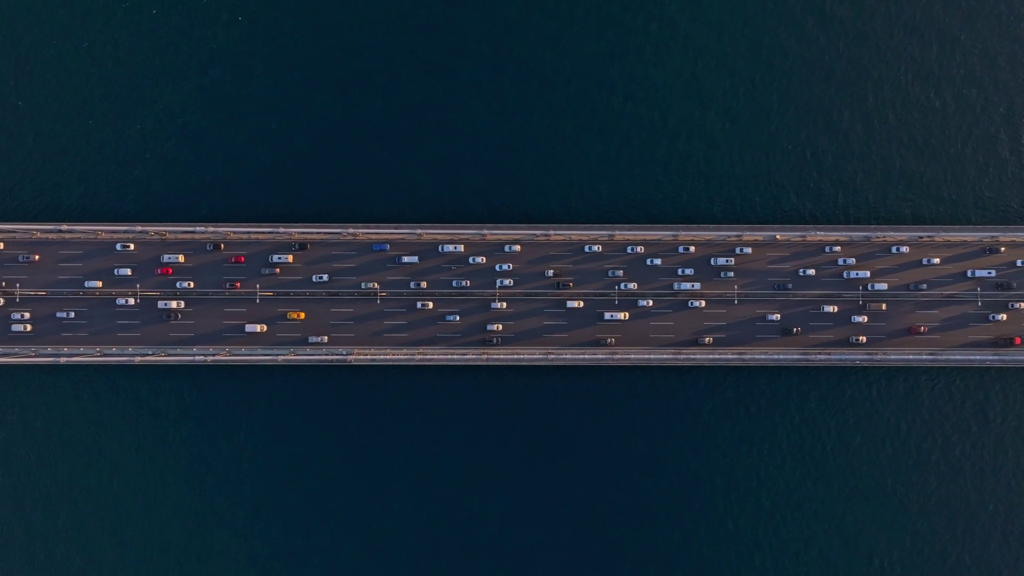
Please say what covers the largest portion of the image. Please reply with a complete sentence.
The scene is dominated by water.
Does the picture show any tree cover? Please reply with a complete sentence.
No, the scene doesn't show any tree cover.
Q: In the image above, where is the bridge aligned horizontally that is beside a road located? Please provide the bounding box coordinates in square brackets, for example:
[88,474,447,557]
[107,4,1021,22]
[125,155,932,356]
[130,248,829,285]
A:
[0,222,1024,366]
